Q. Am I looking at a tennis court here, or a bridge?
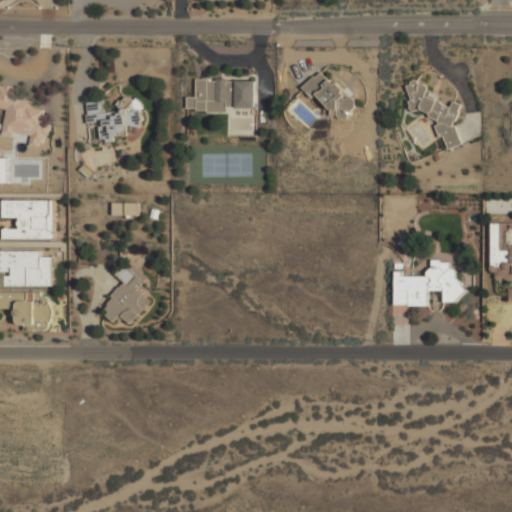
tennis court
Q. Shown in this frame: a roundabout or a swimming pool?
swimming pool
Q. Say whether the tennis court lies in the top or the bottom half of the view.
top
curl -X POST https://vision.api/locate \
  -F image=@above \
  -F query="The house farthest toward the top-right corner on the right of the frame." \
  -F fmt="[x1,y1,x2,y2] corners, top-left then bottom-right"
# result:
[405,80,462,148]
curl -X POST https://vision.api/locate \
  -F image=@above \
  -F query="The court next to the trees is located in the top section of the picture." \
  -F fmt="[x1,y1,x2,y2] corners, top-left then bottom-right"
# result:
[189,146,266,186]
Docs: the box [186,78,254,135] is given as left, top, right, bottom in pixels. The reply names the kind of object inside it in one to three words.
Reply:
house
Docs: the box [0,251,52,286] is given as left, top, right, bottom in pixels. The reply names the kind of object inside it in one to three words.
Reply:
house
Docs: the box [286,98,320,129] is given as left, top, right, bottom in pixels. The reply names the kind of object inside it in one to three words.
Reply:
swimming pool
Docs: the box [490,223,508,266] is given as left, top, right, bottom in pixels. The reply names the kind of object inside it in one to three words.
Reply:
building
